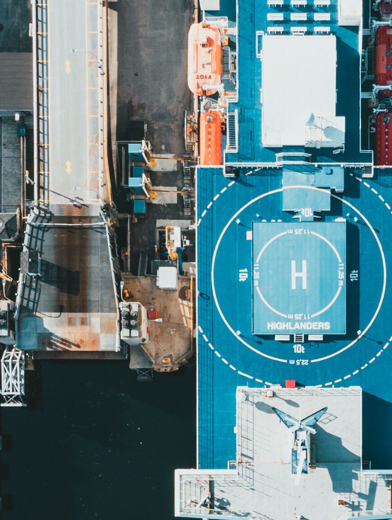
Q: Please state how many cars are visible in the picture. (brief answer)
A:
0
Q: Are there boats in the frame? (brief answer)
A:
Yes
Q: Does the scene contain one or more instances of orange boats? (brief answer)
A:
Yes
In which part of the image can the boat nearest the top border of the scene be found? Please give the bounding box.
[378,0,392,21]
